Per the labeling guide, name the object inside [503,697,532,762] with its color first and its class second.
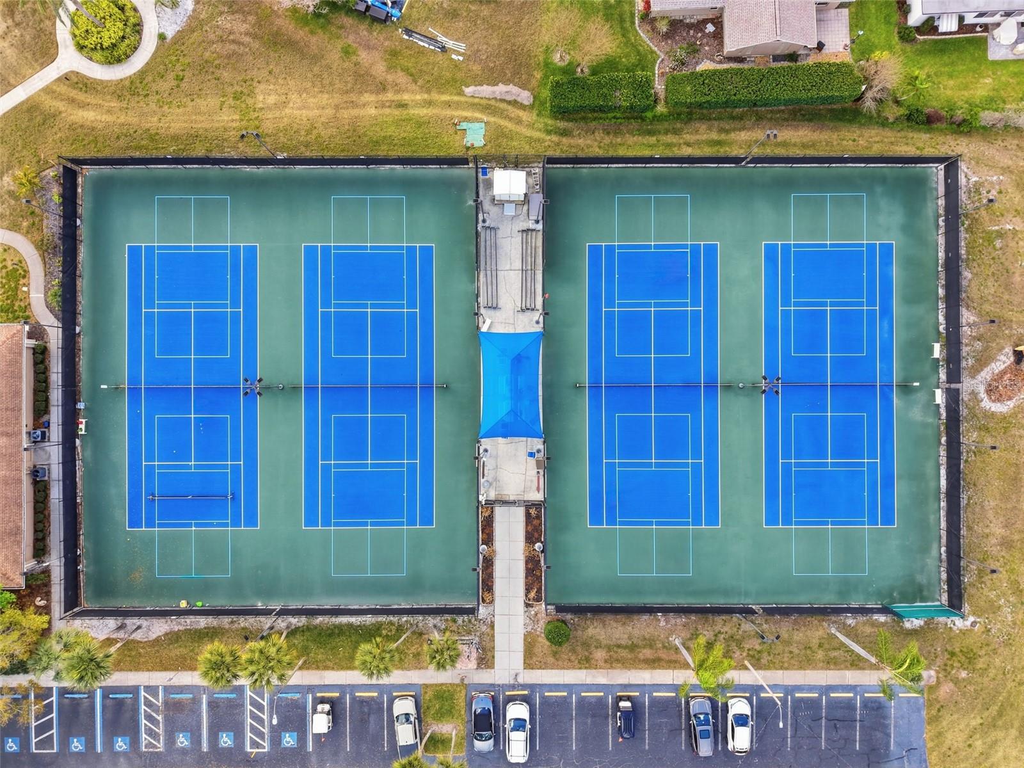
white car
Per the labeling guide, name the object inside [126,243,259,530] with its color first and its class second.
blue tennis court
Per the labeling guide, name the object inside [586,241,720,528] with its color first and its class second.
blue tennis court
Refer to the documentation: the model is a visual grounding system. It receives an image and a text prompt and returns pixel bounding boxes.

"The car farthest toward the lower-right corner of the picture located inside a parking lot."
[727,693,756,755]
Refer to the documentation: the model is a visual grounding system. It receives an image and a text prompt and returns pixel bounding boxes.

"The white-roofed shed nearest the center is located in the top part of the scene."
[494,167,526,199]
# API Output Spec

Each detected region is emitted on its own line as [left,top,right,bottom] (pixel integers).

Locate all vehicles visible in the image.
[314,696,334,742]
[687,692,717,755]
[503,697,532,762]
[469,691,496,749]
[616,693,634,739]
[727,693,756,755]
[390,694,421,768]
